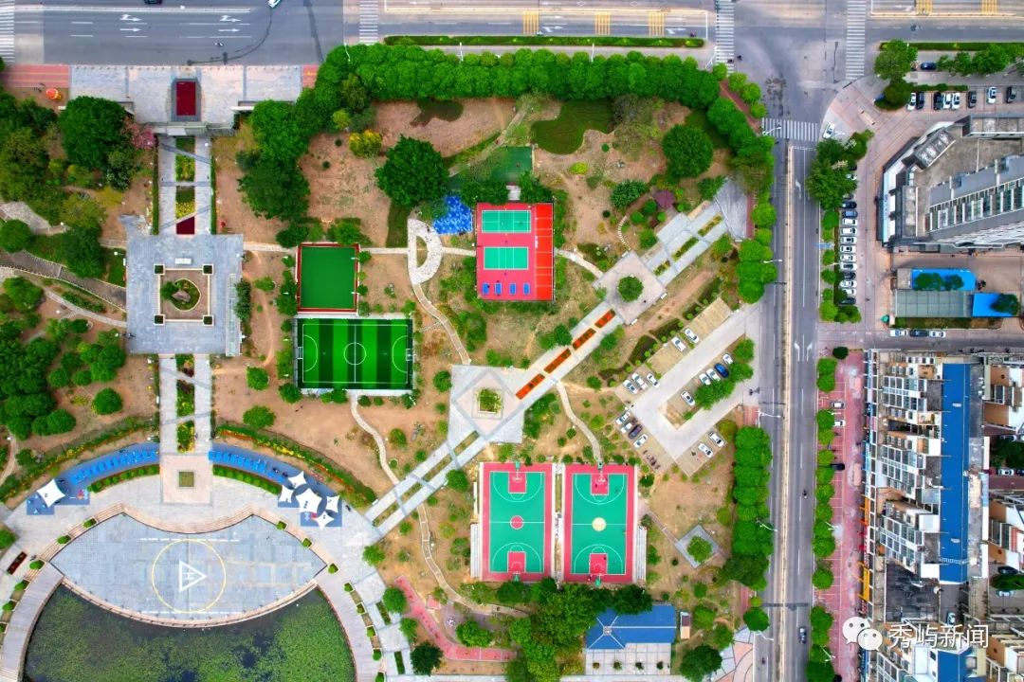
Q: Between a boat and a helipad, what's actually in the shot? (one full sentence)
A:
Looking from above, you can make out a helipad.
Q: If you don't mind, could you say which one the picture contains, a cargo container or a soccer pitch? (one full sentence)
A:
The image shows a soccer pitch.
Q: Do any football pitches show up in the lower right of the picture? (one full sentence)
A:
No, in the lower right of the picture there is no football pitch.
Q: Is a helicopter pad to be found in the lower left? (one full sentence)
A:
Yes, you'll find a helicopter pad in the lower left.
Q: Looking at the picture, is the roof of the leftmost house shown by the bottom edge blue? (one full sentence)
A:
Yes, the roof of the leftmost house shown by the bottom edge appears blue.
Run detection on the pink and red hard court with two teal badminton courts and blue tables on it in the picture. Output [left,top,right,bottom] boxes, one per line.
[476,202,553,301]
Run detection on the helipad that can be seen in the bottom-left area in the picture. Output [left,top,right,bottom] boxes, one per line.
[151,539,226,613]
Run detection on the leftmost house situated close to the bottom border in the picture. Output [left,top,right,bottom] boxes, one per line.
[586,602,676,650]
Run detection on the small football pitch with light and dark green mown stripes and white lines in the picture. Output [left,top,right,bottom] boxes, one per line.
[293,313,414,395]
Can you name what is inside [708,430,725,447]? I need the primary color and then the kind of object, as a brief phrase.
white car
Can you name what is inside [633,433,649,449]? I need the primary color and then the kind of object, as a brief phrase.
white car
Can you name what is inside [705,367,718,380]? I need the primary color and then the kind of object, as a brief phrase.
white vehicle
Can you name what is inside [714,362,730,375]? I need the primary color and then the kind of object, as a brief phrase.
blue vehicle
